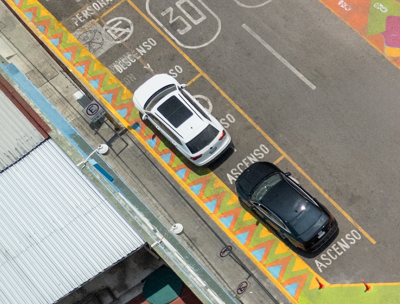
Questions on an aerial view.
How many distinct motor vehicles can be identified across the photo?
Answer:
2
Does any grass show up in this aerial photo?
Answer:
No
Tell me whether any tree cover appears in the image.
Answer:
No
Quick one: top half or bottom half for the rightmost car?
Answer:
bottom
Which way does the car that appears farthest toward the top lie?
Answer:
on a diagonal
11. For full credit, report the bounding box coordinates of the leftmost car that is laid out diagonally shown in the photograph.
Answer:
[136,75,239,177]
